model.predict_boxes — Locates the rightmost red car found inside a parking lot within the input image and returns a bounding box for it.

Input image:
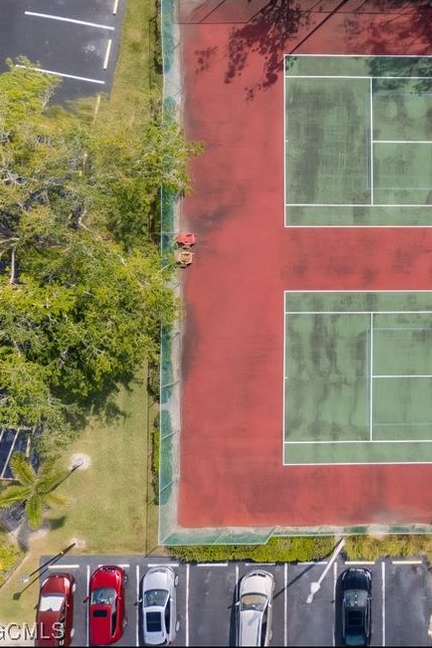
[83,565,125,644]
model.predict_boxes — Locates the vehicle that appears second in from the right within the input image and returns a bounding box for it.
[236,568,274,648]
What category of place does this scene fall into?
sports ground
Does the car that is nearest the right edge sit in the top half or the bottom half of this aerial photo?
bottom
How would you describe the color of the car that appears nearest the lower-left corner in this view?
red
